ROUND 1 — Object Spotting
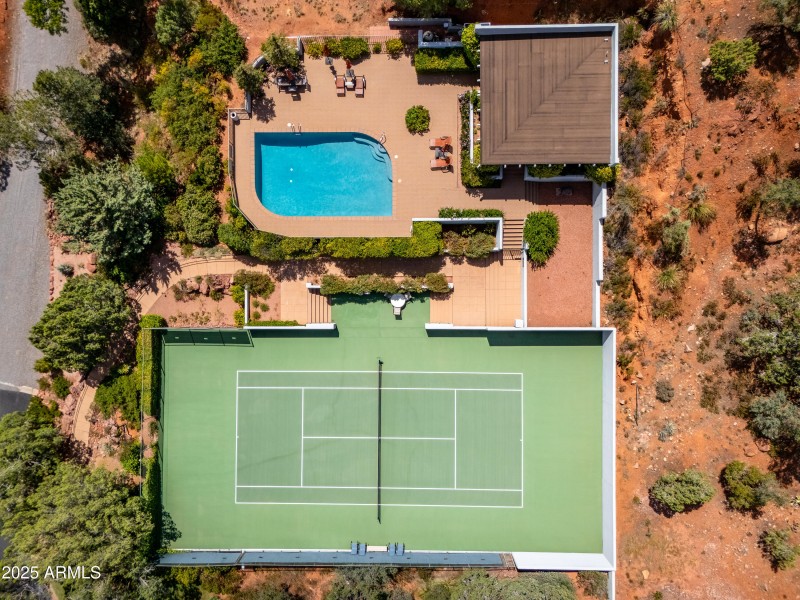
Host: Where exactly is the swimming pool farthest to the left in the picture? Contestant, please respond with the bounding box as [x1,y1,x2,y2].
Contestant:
[250,127,397,221]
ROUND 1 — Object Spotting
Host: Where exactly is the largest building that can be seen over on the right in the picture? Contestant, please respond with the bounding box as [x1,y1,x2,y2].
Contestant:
[470,24,620,177]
